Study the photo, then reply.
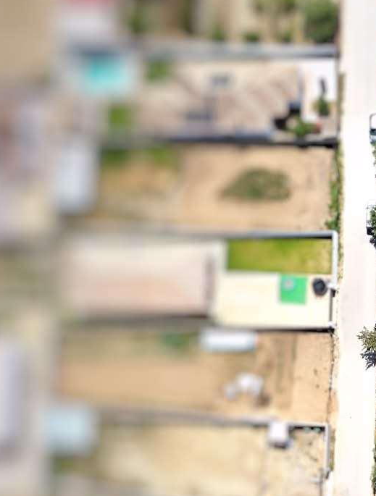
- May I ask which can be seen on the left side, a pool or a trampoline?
pool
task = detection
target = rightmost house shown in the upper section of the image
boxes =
[171,63,301,137]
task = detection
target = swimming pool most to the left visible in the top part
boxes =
[74,48,139,99]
